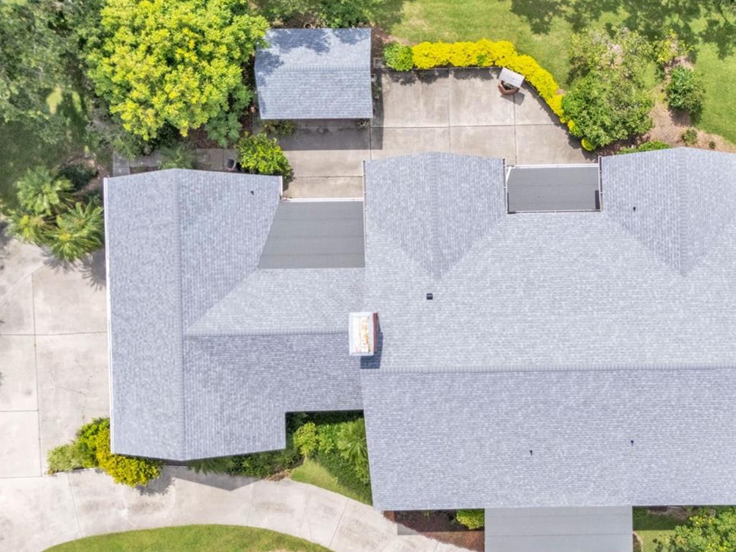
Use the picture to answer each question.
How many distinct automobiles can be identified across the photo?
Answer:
0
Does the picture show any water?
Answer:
No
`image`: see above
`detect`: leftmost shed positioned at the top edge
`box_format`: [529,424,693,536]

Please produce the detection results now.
[253,28,373,123]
